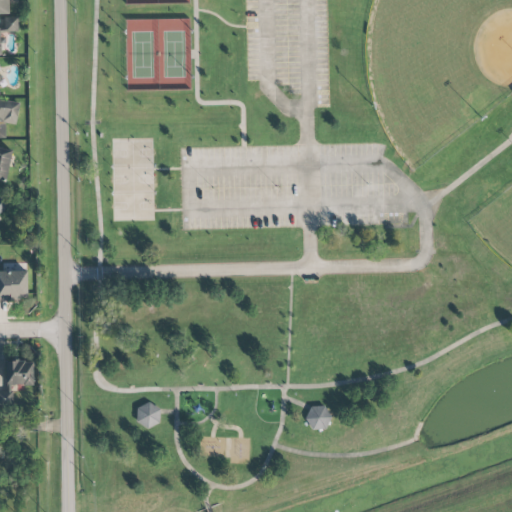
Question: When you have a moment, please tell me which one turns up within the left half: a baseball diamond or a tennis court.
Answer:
tennis court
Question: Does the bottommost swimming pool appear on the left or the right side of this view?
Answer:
left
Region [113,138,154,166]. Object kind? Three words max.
basketball court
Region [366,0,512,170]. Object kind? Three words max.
baseball field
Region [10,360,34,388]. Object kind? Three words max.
house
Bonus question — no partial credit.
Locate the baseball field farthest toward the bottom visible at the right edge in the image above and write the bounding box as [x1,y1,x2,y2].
[466,186,512,265]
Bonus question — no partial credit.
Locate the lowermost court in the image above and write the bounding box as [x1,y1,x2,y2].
[114,193,155,220]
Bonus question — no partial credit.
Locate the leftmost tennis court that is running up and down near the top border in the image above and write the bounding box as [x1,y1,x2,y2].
[126,19,158,88]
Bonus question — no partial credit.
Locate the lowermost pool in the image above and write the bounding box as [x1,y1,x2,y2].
[0,64,20,89]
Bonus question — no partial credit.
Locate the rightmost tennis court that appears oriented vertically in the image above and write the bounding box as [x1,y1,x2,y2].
[158,19,191,88]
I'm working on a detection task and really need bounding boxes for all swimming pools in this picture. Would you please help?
[0,64,20,89]
[0,33,18,54]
